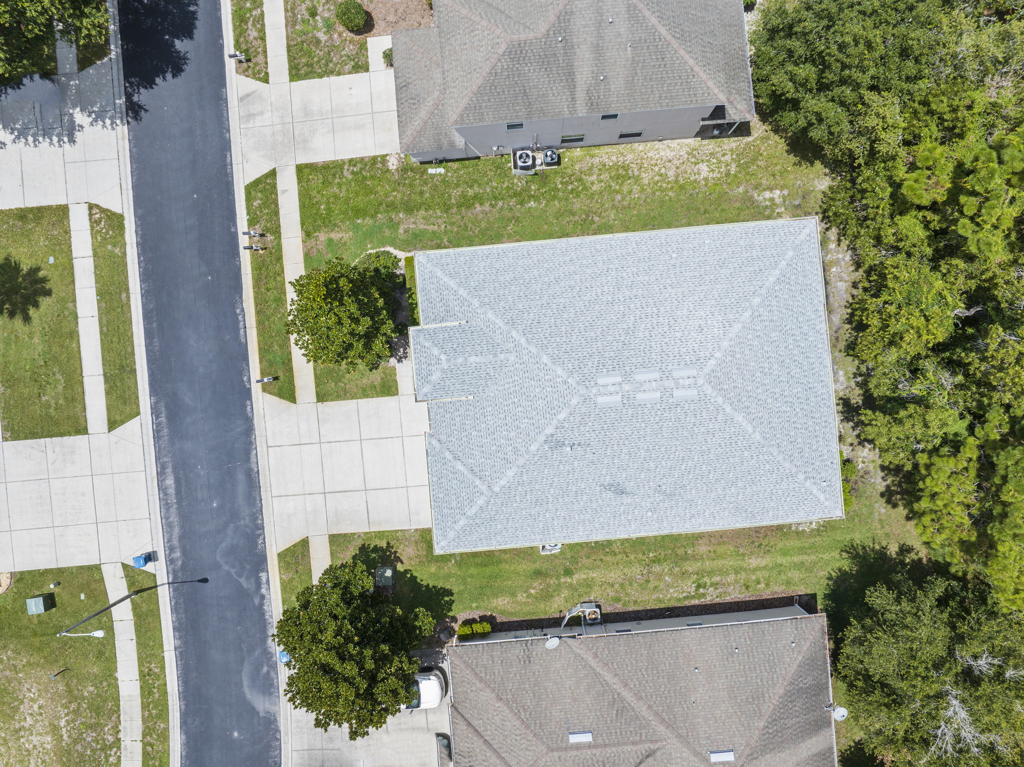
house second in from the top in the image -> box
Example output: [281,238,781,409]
[409,217,844,553]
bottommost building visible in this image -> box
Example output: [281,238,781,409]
[437,600,837,767]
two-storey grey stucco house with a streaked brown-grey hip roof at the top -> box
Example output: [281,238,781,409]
[391,0,754,161]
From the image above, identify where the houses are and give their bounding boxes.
[409,217,844,553]
[391,0,754,161]
[437,600,837,767]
